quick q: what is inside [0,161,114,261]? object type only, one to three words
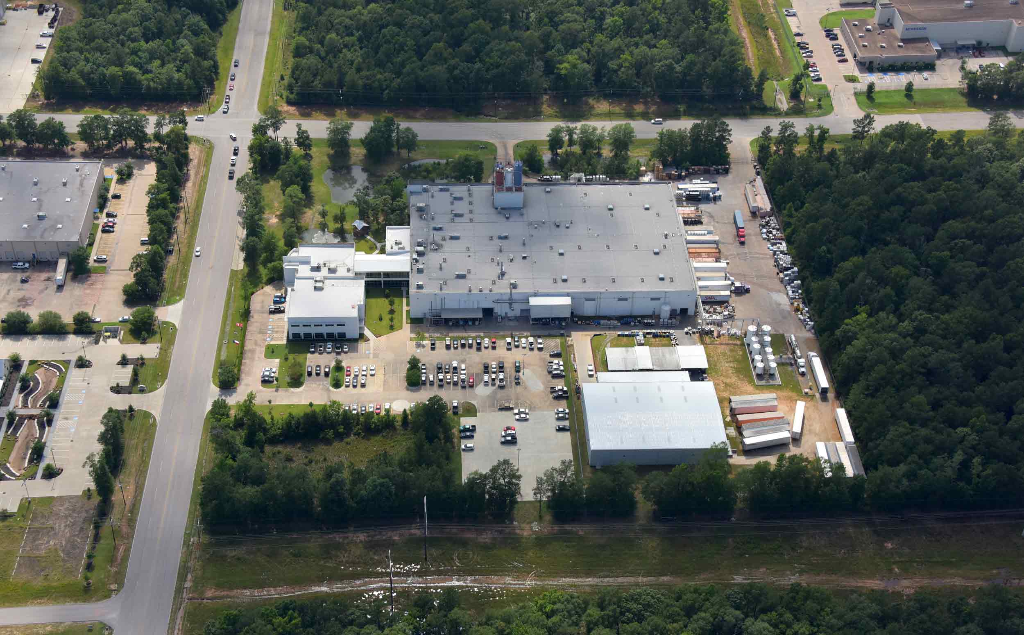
building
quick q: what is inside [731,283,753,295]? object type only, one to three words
vehicle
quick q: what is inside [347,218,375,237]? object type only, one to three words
gazebo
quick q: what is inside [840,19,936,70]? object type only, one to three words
building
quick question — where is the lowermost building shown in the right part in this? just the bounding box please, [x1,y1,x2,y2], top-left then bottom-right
[581,381,729,467]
